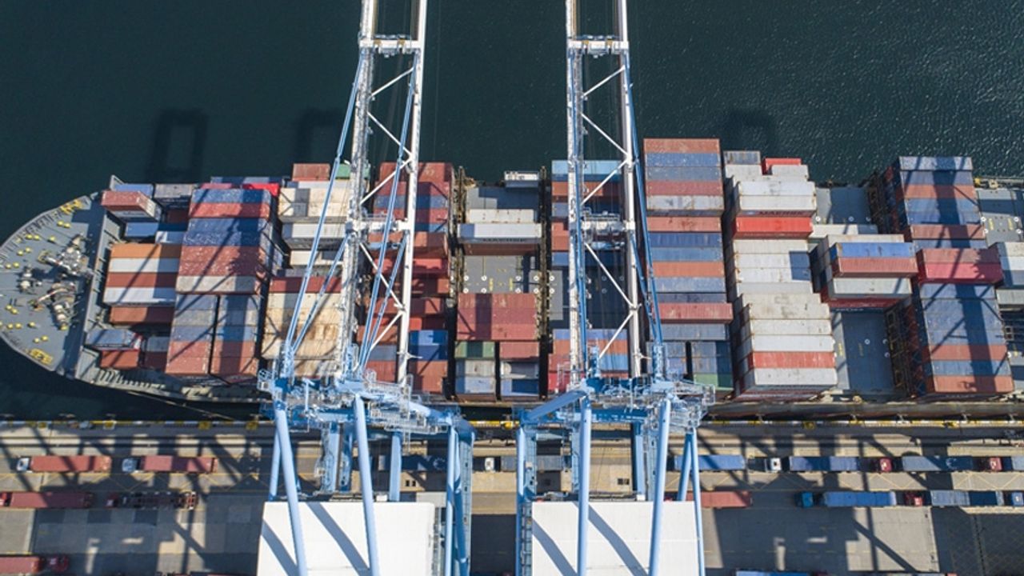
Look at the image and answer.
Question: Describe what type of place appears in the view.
port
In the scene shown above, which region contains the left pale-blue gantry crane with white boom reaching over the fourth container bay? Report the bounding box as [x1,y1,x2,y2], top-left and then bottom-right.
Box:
[238,0,495,576]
